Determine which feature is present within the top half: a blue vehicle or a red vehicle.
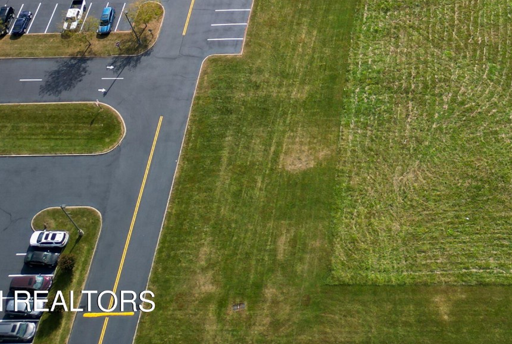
blue vehicle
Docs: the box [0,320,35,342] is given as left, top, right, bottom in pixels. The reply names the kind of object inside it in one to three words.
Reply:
car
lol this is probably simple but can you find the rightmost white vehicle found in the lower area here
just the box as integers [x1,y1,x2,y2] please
[30,230,69,249]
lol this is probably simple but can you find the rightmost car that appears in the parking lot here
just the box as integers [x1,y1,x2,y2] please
[95,7,114,33]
